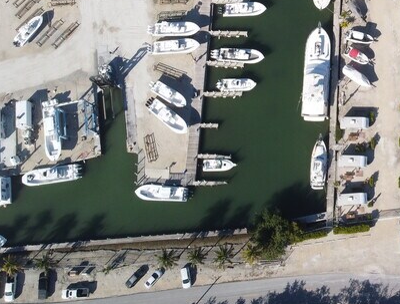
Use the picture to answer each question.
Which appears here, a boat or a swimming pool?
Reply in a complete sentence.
Looking from above, you can make out a boat.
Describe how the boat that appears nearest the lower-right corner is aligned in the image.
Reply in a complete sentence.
The boat that appears nearest the lower-right corner has been laid out from top to bottom relative to the frame.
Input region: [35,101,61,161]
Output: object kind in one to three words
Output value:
boat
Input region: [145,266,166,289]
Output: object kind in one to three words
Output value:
car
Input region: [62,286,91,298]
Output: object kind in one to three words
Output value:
vehicle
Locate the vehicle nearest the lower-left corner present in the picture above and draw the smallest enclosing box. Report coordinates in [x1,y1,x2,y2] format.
[3,275,18,301]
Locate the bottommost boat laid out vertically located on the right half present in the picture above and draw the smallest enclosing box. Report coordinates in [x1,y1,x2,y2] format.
[305,133,328,191]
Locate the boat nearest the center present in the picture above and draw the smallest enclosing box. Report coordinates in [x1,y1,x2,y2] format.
[199,159,239,171]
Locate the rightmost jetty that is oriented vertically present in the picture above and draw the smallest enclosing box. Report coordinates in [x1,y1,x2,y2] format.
[185,0,214,179]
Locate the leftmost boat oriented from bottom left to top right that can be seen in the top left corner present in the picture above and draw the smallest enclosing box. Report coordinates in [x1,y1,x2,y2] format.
[13,16,44,46]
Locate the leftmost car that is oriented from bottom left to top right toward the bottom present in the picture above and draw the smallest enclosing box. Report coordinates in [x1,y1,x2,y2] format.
[126,265,149,288]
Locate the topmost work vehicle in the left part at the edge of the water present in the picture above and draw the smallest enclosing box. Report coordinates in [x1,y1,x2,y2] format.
[92,60,118,111]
